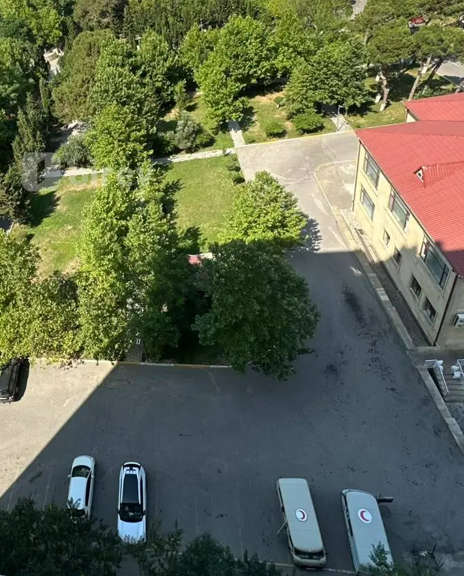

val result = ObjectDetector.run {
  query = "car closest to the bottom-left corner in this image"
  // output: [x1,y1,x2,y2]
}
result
[65,460,95,524]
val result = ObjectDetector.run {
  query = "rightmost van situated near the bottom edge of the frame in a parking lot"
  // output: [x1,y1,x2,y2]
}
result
[340,482,403,576]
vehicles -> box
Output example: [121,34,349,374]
[0,358,24,406]
[340,482,403,576]
[65,460,95,524]
[279,471,333,570]
[115,464,146,543]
